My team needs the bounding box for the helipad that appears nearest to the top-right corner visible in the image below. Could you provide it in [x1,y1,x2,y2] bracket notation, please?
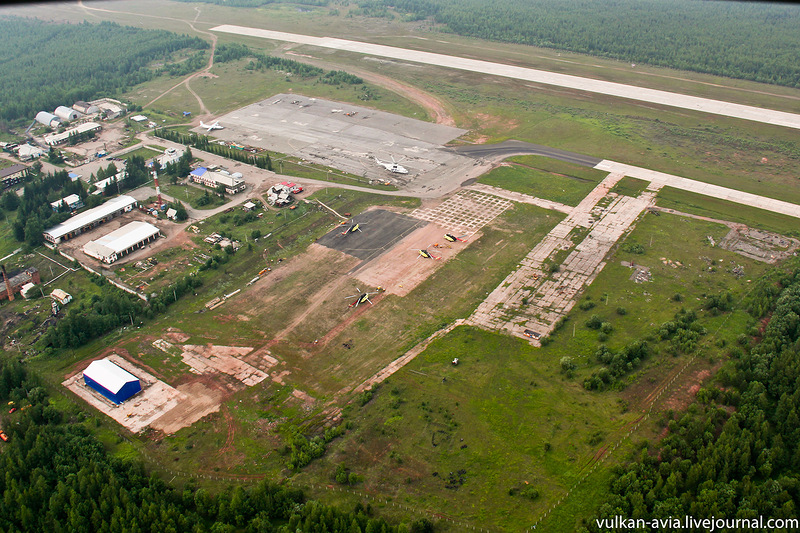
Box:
[411,188,516,237]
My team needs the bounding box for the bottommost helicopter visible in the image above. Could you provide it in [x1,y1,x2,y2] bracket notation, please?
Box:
[344,288,378,308]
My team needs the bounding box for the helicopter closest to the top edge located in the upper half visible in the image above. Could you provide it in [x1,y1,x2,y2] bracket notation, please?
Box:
[370,155,410,175]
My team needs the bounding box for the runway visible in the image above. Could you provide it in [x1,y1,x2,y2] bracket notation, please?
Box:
[210,24,800,128]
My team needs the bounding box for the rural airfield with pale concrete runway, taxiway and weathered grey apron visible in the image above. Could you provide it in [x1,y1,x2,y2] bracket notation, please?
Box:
[180,24,800,392]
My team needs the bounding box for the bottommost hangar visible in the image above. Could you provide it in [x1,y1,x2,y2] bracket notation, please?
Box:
[82,360,141,404]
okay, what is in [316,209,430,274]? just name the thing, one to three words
helipad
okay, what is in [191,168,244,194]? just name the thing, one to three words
building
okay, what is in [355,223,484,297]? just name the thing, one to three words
helipad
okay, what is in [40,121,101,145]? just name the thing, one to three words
building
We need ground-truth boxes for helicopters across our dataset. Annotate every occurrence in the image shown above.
[415,244,445,259]
[338,220,365,235]
[445,232,472,242]
[370,155,410,175]
[344,288,378,308]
